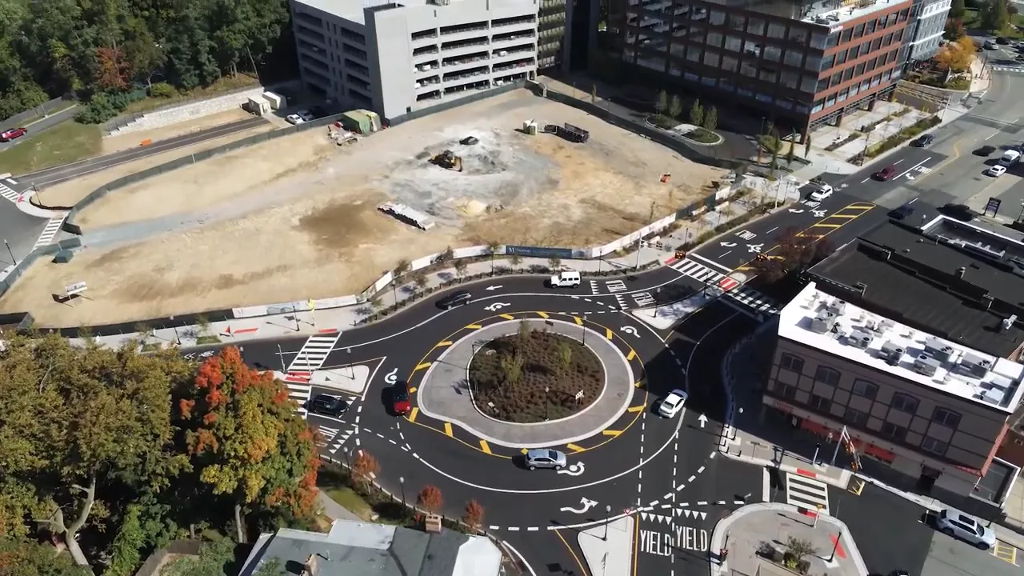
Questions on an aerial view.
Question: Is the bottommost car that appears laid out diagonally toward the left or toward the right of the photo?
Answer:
right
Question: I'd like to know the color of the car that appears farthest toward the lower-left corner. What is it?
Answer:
black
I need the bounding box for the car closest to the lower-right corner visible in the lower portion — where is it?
[940,507,1000,550]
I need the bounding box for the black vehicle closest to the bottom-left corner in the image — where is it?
[305,391,349,413]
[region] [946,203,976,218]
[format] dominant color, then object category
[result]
black car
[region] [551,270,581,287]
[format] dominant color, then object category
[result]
white car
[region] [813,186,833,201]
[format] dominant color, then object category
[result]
white car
